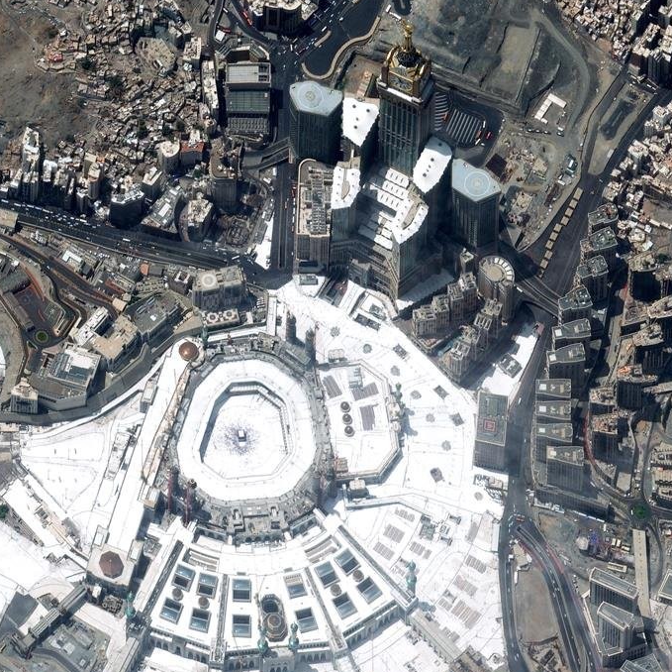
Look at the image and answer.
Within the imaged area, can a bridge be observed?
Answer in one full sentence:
Yes, there's a bridge here.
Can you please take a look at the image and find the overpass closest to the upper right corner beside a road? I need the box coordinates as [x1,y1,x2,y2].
[514,281,558,323]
